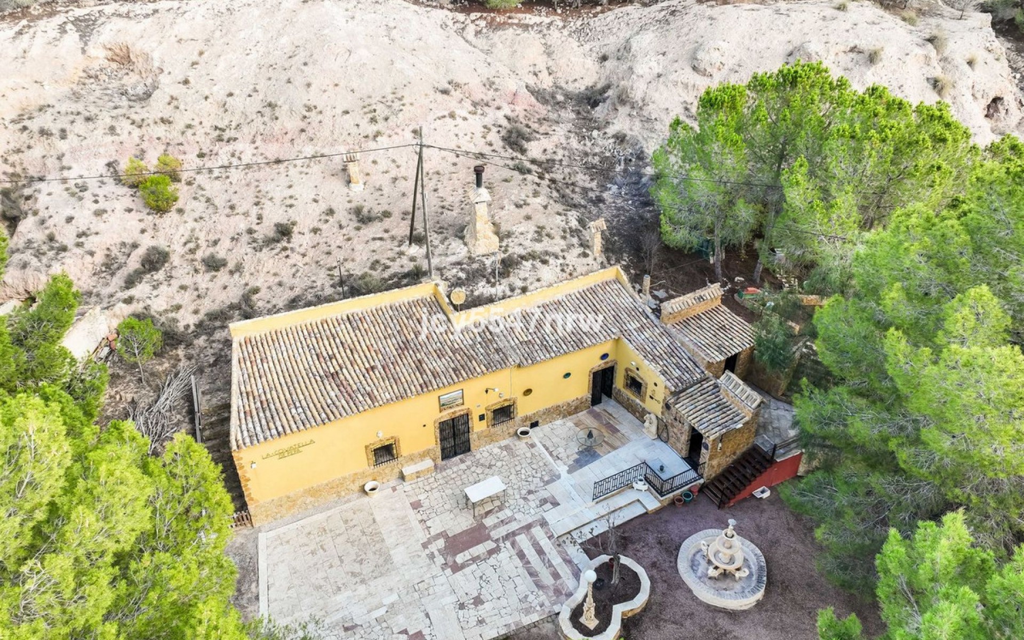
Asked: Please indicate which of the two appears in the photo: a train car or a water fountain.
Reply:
water fountain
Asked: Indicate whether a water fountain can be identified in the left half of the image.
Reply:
No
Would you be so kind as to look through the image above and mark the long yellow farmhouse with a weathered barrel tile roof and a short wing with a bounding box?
[227,262,711,526]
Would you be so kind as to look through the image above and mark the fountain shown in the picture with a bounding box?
[676,523,771,612]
